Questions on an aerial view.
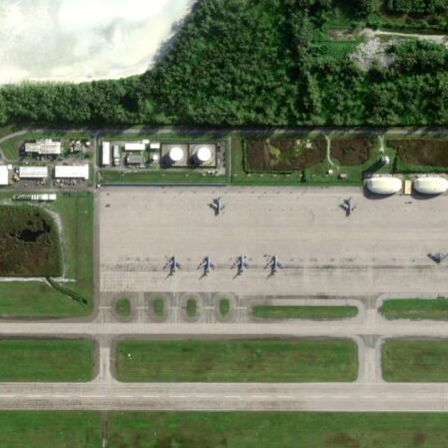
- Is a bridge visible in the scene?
No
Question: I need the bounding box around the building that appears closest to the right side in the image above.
[414,176,448,194]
